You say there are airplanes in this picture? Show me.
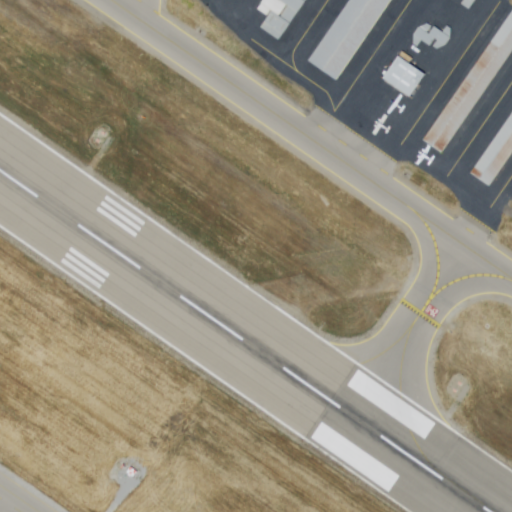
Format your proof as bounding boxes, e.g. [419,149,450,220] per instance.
[388,94,405,114]
[374,114,391,135]
[416,146,434,166]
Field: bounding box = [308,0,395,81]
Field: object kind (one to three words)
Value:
hangar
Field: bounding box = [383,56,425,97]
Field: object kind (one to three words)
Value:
hangar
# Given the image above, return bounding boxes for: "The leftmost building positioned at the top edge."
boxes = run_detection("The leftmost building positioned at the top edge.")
[257,0,307,40]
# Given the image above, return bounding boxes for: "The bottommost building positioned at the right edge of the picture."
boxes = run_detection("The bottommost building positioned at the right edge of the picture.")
[470,112,512,186]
